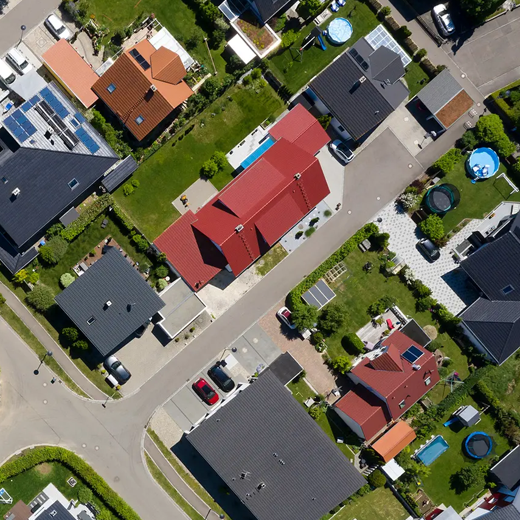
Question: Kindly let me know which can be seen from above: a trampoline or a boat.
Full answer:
Of the two, only a trampoline appears.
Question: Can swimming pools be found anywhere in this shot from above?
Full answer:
Yes, a swimming pool can be made out from above.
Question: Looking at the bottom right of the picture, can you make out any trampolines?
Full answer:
Yes, a trampoline can be seen at the bottom right of the picture.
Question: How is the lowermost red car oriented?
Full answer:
From this overhead view, the lowermost red car appears to run on a diagonal.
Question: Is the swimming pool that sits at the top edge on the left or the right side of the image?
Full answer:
The swimming pool that sits at the top edge is on the right side of the image.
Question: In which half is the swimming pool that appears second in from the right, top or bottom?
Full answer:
You can find the swimming pool that appears second in from the right in the bottom half.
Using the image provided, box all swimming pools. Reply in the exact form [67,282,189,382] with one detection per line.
[411,430,449,465]
[324,18,352,47]
[241,139,274,170]
[463,147,499,182]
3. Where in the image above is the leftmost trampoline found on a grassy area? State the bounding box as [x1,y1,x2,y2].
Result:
[428,182,463,214]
